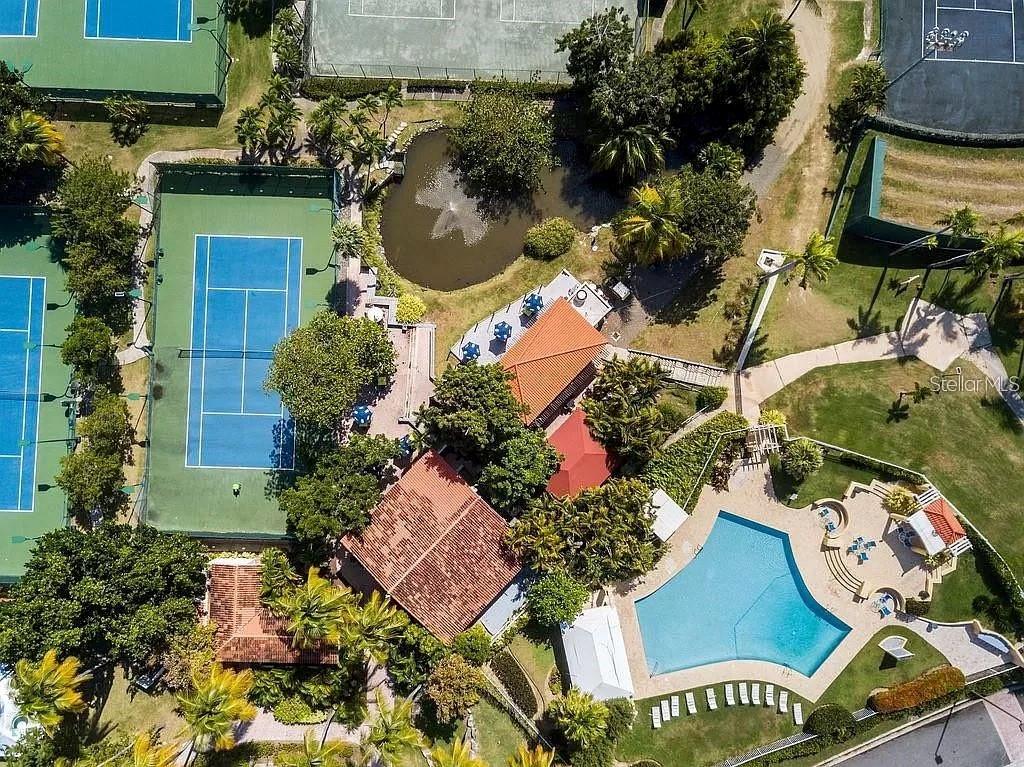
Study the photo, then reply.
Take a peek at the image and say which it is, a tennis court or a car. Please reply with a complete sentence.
Of the two, only a tennis court appears.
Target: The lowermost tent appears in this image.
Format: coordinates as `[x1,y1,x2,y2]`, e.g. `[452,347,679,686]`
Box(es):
[562,601,634,702]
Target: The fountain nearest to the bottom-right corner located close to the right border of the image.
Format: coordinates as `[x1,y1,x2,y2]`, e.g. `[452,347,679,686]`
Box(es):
[962,615,1024,668]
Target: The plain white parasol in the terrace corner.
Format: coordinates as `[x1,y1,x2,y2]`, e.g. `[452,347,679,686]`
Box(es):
[368,306,385,322]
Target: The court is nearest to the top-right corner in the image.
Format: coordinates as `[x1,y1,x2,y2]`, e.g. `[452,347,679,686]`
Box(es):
[882,0,1024,137]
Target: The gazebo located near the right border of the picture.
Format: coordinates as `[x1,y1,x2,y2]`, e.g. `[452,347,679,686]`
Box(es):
[898,487,974,558]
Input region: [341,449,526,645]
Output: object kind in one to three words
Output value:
house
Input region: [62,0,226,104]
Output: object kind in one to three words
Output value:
tennis court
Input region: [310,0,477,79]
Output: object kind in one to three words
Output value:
tennis court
